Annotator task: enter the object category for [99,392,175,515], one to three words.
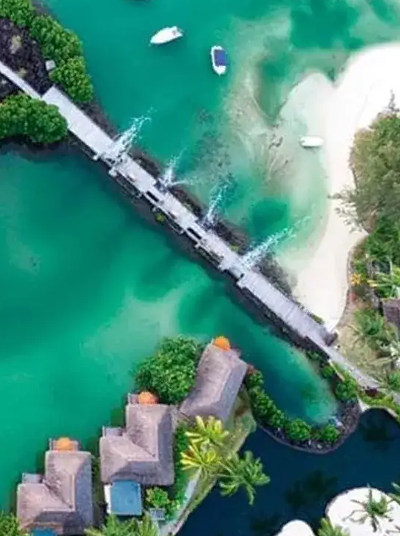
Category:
house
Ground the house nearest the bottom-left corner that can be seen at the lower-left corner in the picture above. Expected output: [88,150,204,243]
[17,438,94,536]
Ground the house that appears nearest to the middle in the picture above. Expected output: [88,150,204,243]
[178,336,247,425]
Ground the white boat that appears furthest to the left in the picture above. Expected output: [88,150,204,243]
[150,25,184,44]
